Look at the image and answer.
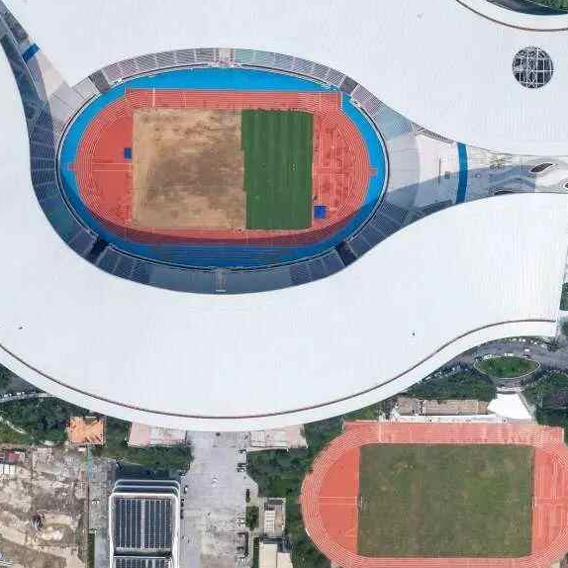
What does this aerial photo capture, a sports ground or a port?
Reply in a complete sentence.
This looks like a sports ground.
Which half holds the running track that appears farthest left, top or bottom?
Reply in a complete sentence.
It is in the top half that the running track that appears farthest left appears.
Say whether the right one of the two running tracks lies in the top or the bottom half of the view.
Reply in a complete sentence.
Seen from above, the right one of the two running tracks lies in the bottom half of the view.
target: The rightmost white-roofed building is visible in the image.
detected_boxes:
[487,388,532,419]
